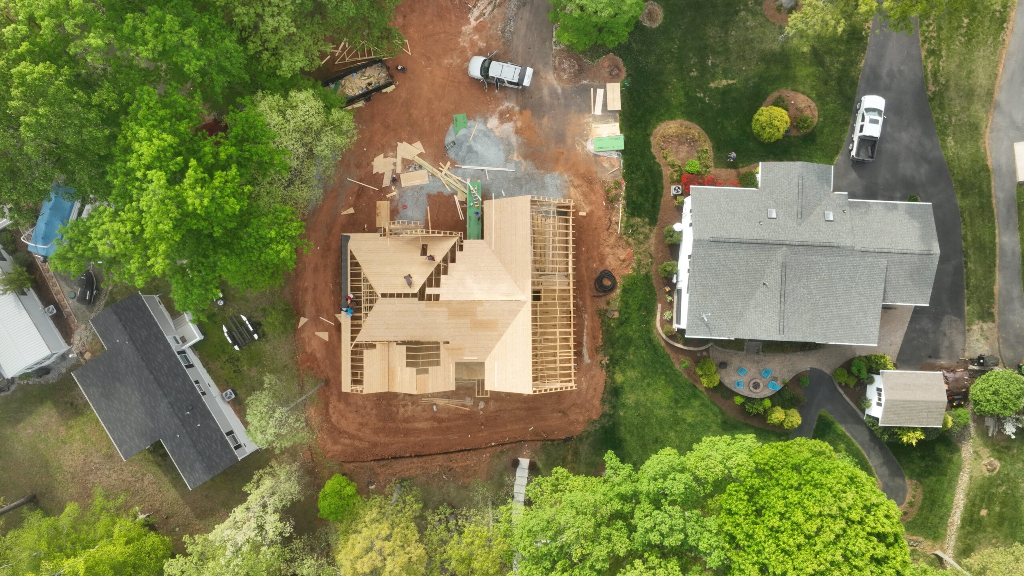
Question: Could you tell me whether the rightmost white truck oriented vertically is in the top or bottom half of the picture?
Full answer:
It is in the top half that the rightmost white truck oriented vertically appears.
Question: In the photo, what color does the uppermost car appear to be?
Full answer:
From above, the uppermost car appears white.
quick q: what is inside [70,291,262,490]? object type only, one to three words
house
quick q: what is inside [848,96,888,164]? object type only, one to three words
truck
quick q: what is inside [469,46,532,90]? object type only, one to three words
car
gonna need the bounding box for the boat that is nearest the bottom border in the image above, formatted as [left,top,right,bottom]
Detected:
[73,270,92,305]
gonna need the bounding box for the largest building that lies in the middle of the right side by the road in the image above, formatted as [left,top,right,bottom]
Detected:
[661,161,939,347]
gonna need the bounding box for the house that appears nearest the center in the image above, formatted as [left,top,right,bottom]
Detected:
[342,195,576,397]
